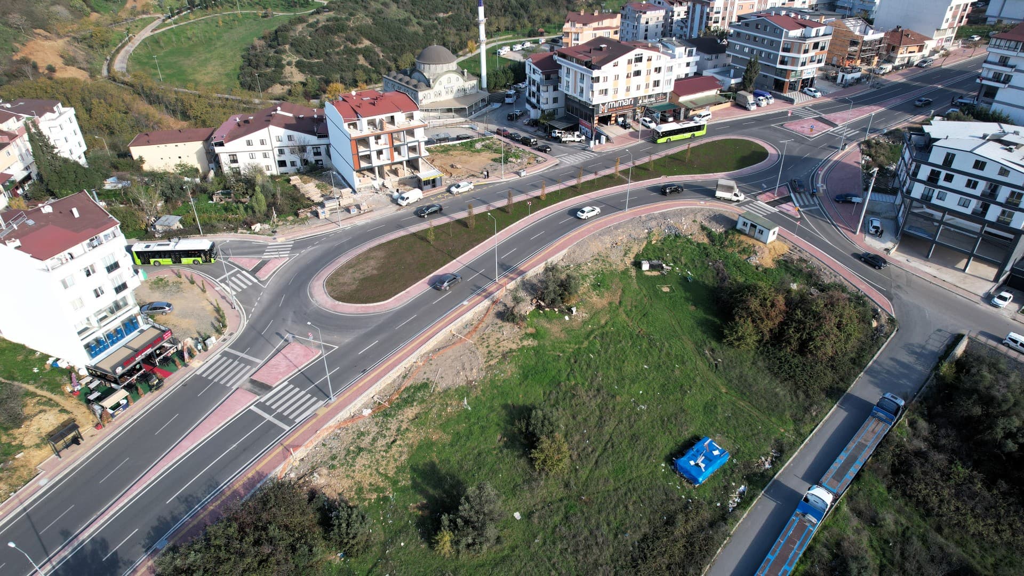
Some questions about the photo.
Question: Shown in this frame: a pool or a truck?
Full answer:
Visible in the photo is a truck.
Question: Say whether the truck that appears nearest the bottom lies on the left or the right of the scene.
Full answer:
The truck that appears nearest the bottom sits on the right side.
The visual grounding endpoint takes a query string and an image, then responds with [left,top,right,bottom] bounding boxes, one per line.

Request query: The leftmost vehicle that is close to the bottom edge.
[740,473,843,576]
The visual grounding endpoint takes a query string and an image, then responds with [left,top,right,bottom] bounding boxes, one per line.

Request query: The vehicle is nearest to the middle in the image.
[434,271,463,290]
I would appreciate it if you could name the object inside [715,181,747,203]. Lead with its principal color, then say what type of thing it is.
white truck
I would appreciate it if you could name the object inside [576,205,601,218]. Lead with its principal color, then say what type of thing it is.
white vehicle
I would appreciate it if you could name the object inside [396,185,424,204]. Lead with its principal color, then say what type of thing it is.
white vehicle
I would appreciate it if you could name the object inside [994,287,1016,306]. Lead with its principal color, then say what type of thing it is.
white car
